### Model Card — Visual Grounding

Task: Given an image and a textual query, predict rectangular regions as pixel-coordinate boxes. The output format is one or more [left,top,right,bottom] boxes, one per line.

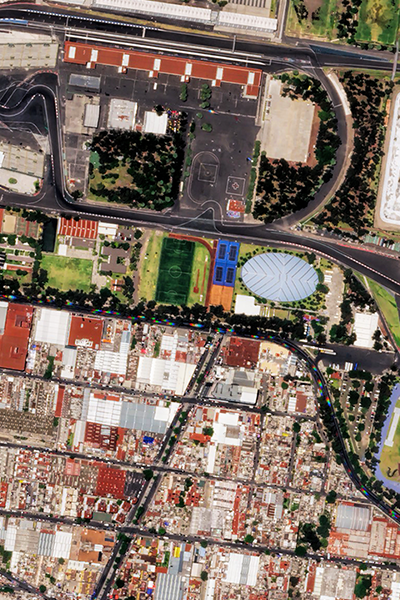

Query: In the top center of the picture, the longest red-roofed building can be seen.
[62,39,261,83]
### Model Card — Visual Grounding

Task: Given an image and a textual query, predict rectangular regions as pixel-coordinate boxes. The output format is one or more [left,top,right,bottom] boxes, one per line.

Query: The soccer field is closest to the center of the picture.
[155,236,195,305]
